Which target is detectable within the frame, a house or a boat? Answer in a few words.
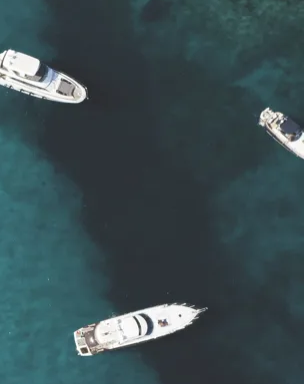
boat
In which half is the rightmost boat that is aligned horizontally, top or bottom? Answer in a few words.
bottom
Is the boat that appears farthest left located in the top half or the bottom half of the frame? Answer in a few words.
top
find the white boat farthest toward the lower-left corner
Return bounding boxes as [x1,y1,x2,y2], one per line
[68,304,207,359]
